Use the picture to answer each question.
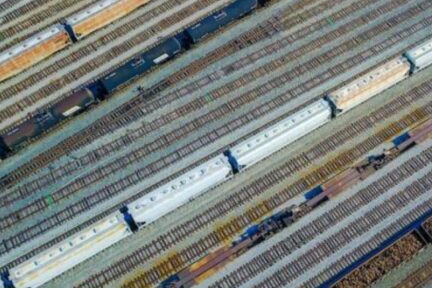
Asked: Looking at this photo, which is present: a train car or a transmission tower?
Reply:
train car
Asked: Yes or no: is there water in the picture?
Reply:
No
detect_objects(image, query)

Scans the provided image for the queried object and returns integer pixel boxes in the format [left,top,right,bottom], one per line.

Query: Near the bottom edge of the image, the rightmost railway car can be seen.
[4,206,135,288]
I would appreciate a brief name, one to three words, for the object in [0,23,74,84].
rail car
